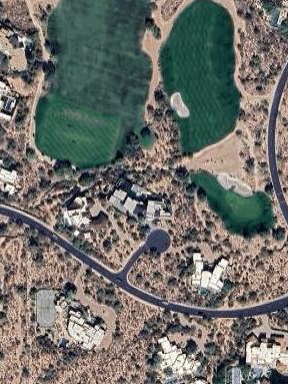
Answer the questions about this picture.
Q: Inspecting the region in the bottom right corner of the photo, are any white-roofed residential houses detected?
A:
Yes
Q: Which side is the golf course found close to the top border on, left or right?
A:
right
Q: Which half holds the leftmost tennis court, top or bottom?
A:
bottom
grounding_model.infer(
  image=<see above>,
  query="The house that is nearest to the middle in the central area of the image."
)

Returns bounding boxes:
[104,183,172,222]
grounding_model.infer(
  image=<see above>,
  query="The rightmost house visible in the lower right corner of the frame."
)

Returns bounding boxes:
[241,335,288,375]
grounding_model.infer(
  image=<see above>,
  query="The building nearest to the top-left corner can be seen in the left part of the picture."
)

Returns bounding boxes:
[0,26,28,70]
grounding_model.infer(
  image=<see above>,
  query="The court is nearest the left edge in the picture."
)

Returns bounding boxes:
[36,289,56,326]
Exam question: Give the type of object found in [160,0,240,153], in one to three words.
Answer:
golf course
